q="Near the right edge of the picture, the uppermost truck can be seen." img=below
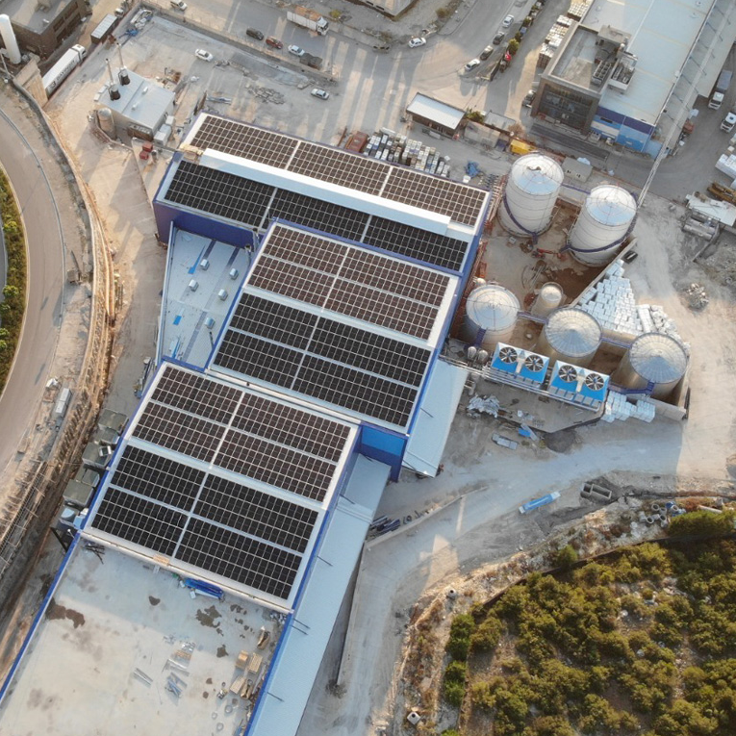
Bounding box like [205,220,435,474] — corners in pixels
[708,66,735,113]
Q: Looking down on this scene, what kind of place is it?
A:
industrial area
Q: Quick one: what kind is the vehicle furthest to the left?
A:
truck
